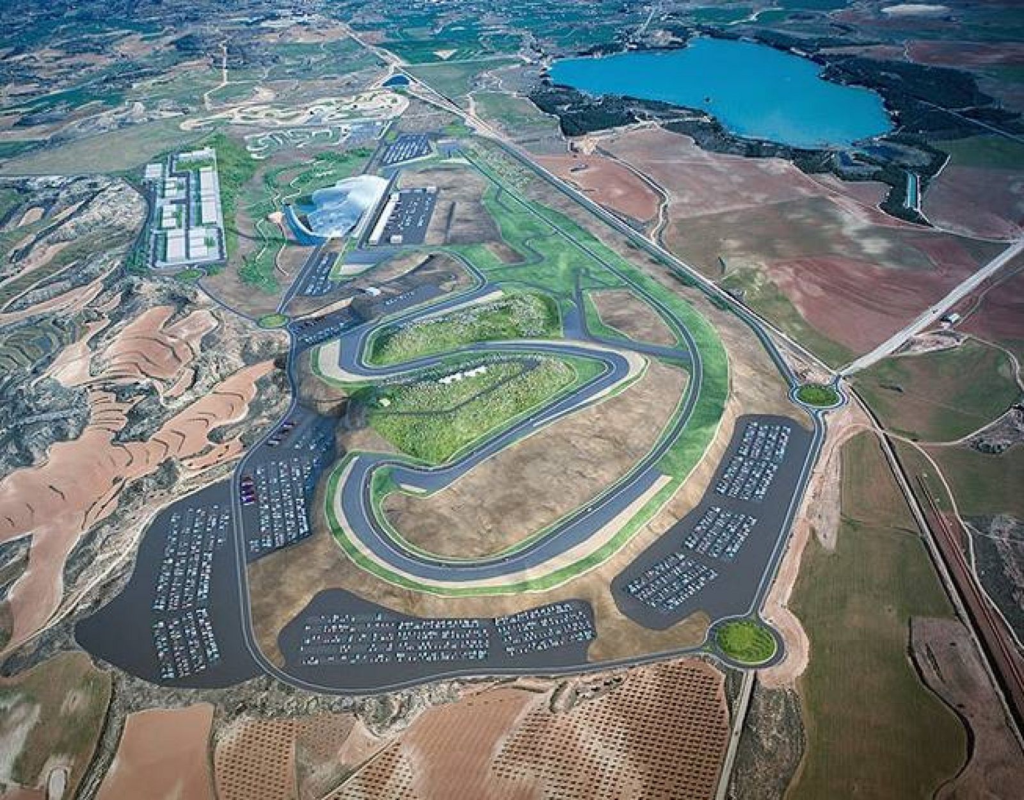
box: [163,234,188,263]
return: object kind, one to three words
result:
building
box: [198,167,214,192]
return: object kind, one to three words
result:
building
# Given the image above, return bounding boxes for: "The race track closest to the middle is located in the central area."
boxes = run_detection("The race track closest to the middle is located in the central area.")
[353,148,700,568]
